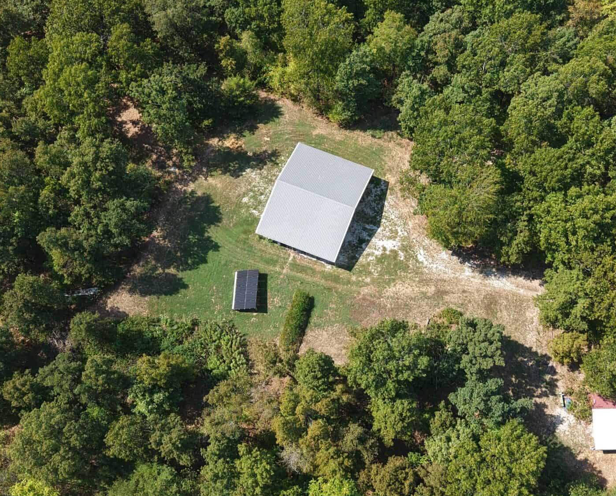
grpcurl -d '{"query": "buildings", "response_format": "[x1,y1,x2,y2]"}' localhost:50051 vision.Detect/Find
[587,390,616,453]
[255,142,376,267]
